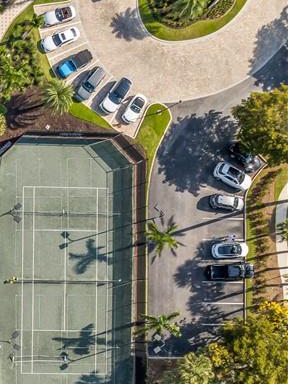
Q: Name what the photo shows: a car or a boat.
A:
car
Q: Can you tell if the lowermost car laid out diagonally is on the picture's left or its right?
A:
right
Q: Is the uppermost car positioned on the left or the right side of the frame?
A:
left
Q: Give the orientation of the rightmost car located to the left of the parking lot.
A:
on a diagonal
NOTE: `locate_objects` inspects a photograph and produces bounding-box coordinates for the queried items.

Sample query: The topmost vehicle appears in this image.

[40,5,78,30]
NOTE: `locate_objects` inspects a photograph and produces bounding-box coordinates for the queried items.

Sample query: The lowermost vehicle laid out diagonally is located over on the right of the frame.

[209,160,253,193]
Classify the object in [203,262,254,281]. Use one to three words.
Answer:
vehicle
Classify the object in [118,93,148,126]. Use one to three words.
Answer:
car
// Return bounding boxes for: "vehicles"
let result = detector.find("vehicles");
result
[209,160,253,193]
[71,64,110,104]
[40,5,78,30]
[118,93,148,126]
[203,262,254,281]
[207,192,244,211]
[53,47,97,81]
[38,26,82,54]
[224,141,267,175]
[95,74,135,116]
[208,240,247,258]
